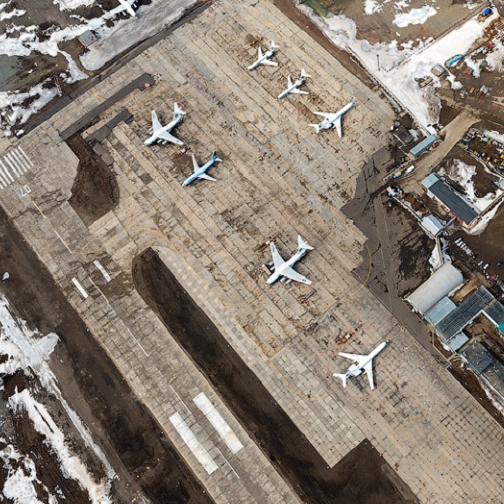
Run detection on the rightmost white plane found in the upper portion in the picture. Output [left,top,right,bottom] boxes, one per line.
[308,102,356,138]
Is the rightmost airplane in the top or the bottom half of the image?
bottom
